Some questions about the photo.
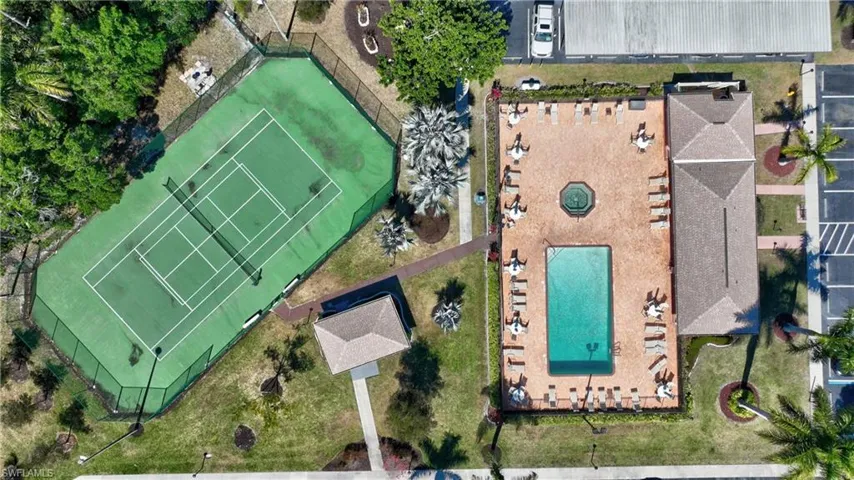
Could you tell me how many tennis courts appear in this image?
1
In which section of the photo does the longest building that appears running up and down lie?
right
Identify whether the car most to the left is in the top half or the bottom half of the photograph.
top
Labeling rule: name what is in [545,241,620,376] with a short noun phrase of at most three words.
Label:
swimming pool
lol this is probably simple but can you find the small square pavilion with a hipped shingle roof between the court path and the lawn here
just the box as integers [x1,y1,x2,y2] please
[314,294,412,374]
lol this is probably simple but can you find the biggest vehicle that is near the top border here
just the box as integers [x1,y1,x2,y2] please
[533,9,559,61]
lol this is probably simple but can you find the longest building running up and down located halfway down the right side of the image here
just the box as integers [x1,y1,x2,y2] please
[662,91,760,335]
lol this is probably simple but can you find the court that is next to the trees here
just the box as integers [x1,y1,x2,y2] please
[33,58,394,413]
